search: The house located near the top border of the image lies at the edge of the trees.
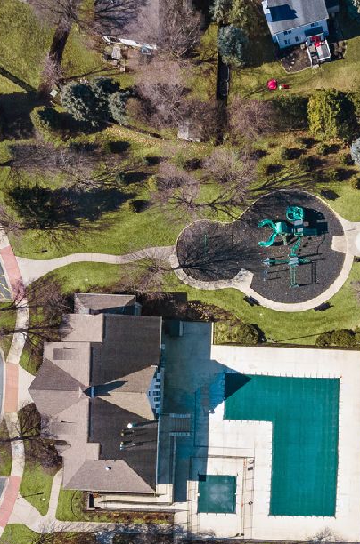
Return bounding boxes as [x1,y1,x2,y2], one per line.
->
[255,0,346,49]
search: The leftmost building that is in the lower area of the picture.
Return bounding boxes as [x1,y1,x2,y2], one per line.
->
[27,294,170,491]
